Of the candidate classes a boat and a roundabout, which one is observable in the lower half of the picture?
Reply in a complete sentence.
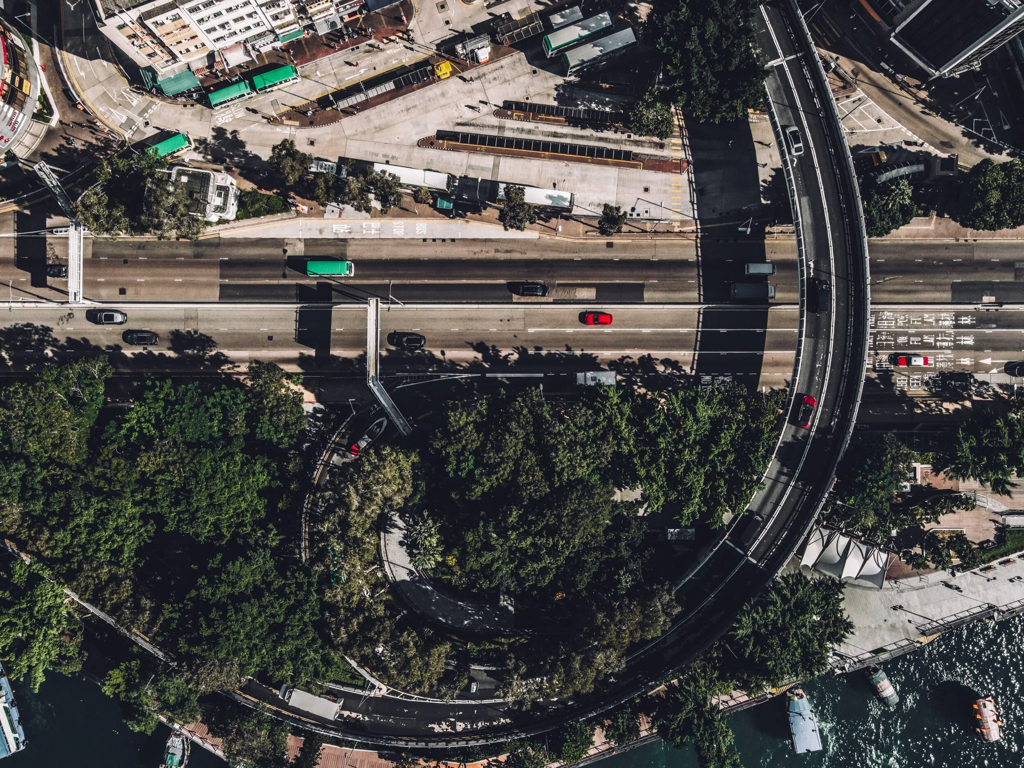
There is a boat in the lower half of the picture.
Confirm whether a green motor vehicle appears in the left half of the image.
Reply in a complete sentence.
Yes, you'll find a green motor vehicle in the left half of the image.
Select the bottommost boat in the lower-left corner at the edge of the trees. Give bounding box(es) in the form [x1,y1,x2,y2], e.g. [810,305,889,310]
[161,729,187,768]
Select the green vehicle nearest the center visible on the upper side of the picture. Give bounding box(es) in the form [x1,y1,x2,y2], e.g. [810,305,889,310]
[306,260,350,276]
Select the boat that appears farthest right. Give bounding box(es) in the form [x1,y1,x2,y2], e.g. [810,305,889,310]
[971,683,1005,746]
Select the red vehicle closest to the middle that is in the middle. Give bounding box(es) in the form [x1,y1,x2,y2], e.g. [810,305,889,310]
[586,312,613,326]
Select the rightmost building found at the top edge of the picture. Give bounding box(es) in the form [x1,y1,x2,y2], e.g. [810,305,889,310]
[870,0,1024,91]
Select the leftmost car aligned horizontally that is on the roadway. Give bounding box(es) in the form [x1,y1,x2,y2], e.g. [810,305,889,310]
[44,265,70,278]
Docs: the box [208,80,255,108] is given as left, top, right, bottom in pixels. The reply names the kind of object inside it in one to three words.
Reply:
vehicle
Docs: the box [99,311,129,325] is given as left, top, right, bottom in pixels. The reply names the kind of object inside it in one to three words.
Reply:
car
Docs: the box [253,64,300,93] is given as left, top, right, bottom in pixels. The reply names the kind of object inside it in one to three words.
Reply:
vehicle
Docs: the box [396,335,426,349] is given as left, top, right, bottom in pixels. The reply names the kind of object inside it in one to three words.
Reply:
car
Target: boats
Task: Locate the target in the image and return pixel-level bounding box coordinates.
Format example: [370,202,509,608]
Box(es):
[971,683,1005,746]
[863,663,903,712]
[161,729,187,768]
[0,644,31,766]
[781,690,818,756]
